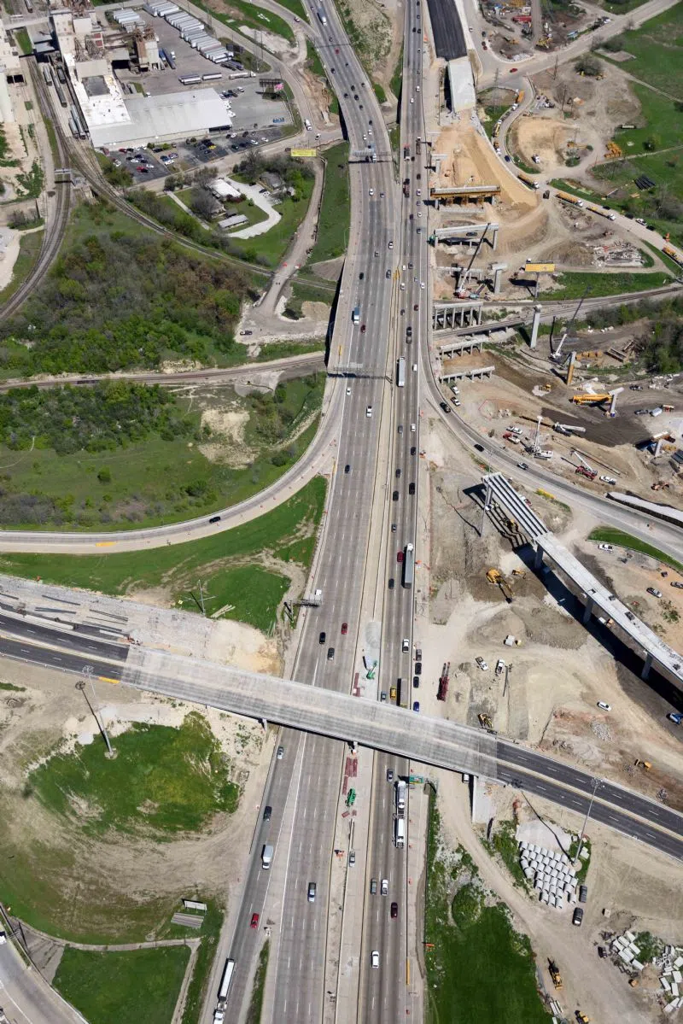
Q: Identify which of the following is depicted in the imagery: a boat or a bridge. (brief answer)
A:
bridge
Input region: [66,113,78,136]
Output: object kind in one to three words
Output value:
rail car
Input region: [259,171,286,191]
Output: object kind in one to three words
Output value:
house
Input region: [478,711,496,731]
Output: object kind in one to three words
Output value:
work vehicle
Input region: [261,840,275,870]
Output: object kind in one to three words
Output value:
vehicle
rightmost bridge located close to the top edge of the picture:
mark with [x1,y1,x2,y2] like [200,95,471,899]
[427,0,476,119]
